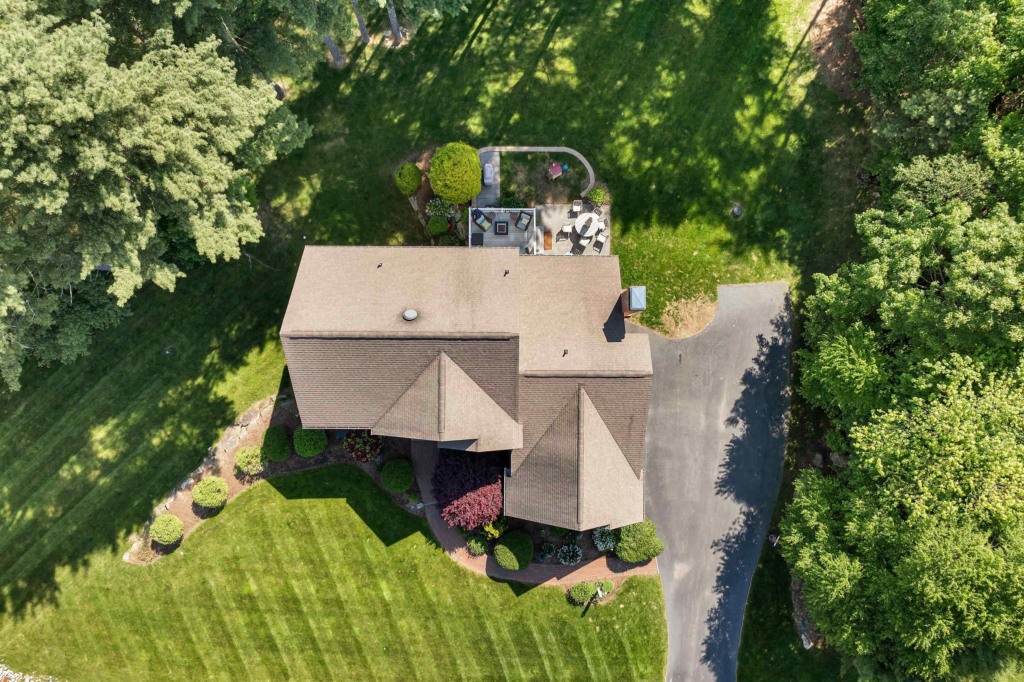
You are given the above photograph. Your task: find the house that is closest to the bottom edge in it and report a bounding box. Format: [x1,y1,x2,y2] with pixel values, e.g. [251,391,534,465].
[280,243,653,531]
